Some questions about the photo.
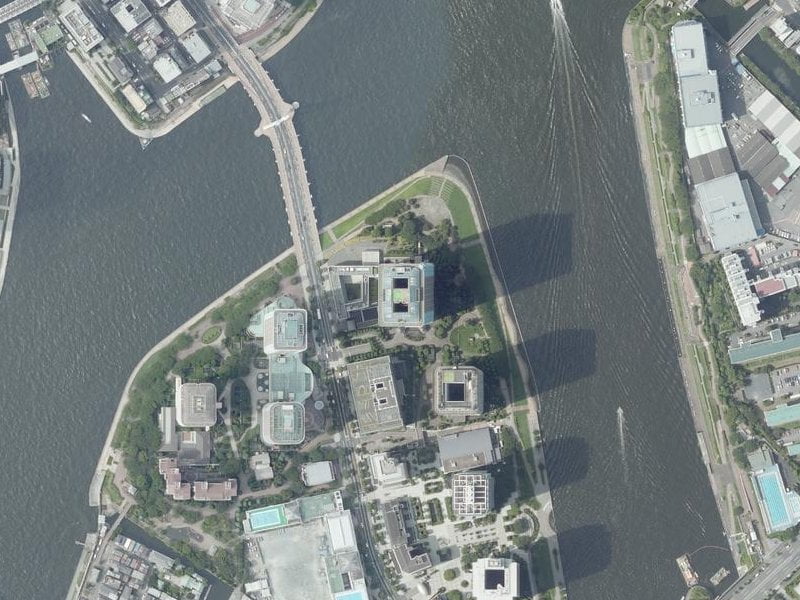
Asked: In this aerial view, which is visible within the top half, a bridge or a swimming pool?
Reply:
bridge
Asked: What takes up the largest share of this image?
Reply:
water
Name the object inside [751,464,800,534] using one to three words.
swimming pool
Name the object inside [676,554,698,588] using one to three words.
ship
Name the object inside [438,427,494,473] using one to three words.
building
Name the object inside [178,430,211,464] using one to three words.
house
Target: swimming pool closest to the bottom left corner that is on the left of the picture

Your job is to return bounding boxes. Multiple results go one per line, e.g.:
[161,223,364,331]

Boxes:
[246,504,288,534]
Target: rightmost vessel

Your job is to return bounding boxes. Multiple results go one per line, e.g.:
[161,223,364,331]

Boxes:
[710,568,729,585]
